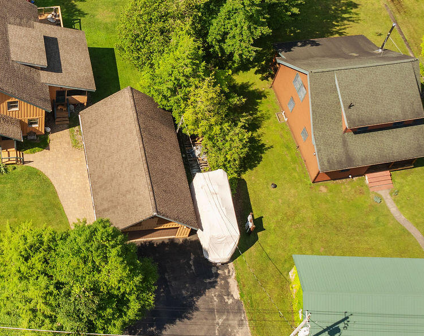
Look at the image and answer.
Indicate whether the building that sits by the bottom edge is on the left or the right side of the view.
right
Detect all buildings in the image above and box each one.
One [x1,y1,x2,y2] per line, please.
[269,23,424,188]
[76,87,203,241]
[288,255,424,336]
[0,0,96,169]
